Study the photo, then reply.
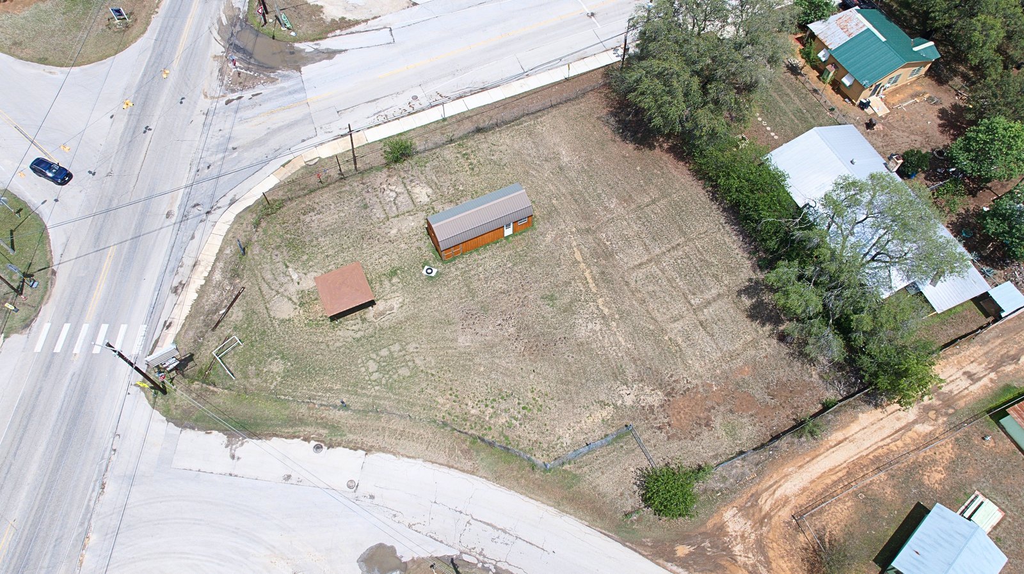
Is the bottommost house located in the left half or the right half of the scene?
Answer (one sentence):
The bottommost house sits on the right side.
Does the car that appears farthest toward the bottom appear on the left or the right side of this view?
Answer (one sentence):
The car that appears farthest toward the bottom appears in the left half of the scene.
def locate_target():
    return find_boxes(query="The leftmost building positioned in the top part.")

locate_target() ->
[425,182,535,260]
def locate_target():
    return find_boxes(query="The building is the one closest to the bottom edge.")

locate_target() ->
[876,503,1008,574]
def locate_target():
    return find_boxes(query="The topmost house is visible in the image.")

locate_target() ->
[804,3,938,101]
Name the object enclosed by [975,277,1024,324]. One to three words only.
shed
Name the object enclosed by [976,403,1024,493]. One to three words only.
shed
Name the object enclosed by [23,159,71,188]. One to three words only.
car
